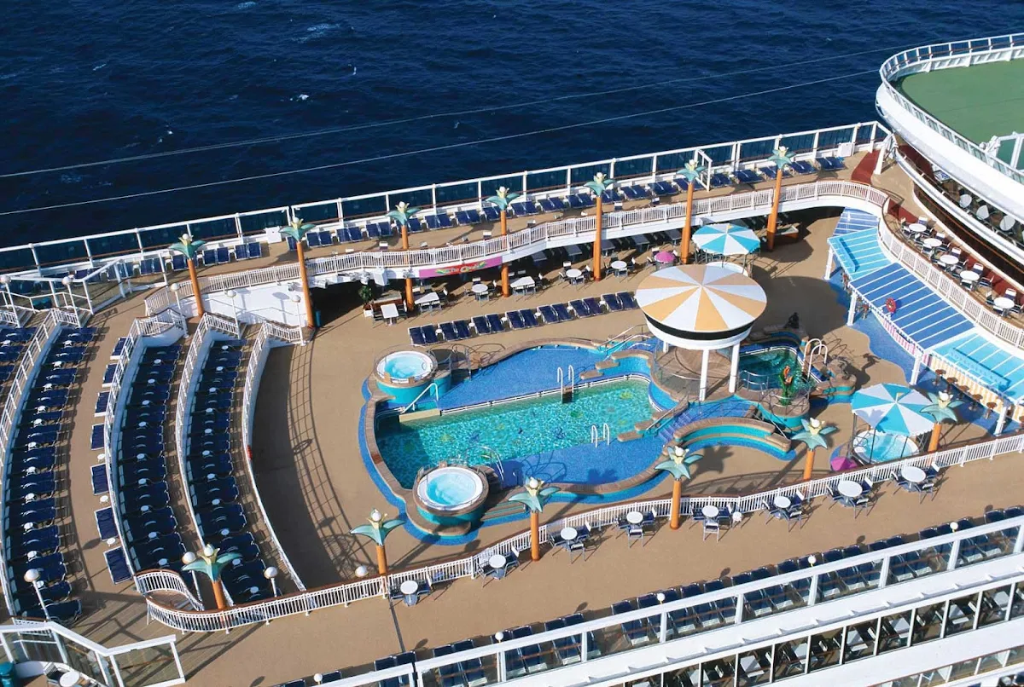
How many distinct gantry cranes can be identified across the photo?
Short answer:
none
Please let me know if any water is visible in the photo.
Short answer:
Yes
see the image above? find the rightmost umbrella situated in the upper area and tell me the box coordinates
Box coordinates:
[691,223,763,284]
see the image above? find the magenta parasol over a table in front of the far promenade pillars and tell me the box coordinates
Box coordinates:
[647,250,680,272]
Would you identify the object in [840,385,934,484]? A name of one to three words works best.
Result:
umbrella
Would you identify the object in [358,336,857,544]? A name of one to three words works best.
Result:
swimming pool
